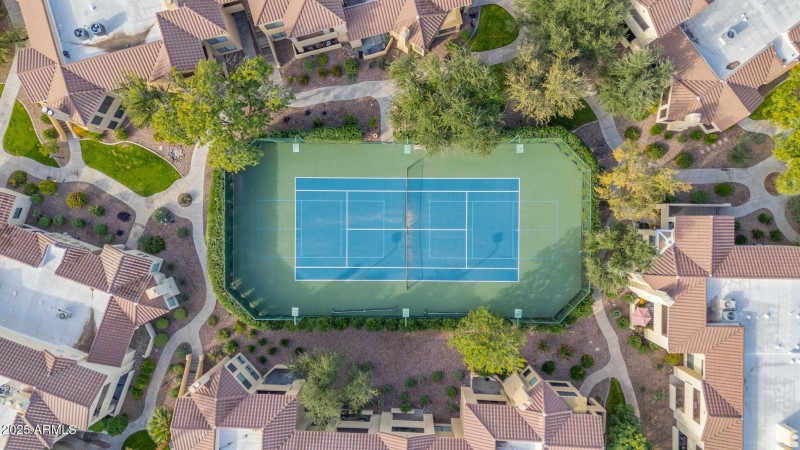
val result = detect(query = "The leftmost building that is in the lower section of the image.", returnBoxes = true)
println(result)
[0,190,194,450]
